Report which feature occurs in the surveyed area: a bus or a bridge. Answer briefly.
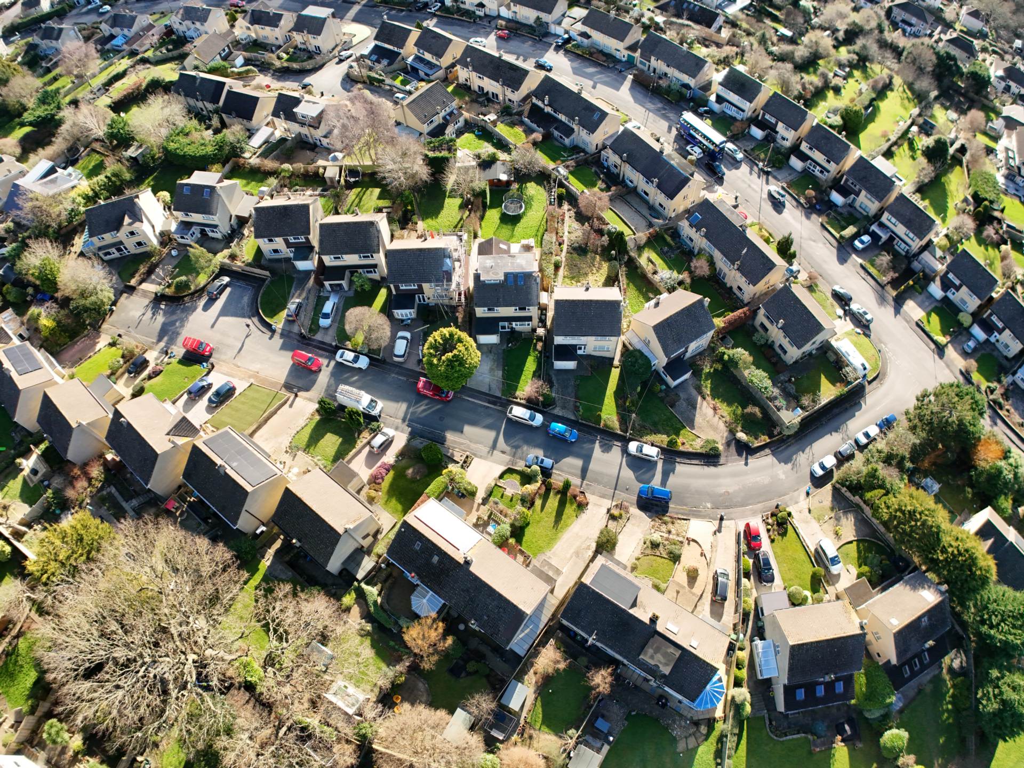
bus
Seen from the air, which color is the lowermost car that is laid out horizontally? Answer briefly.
blue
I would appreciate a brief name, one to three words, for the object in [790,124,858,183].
house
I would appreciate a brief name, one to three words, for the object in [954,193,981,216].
shed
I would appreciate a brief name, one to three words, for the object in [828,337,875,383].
camper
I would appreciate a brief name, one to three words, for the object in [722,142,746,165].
car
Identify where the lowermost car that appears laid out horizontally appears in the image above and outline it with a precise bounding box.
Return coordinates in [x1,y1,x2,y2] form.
[638,485,673,505]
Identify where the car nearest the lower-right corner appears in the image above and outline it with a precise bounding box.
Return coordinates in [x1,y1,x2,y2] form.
[815,537,842,576]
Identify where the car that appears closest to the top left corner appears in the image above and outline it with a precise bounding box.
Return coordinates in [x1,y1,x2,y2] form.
[8,32,25,45]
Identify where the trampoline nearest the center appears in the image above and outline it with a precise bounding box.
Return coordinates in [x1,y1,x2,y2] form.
[502,188,524,214]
